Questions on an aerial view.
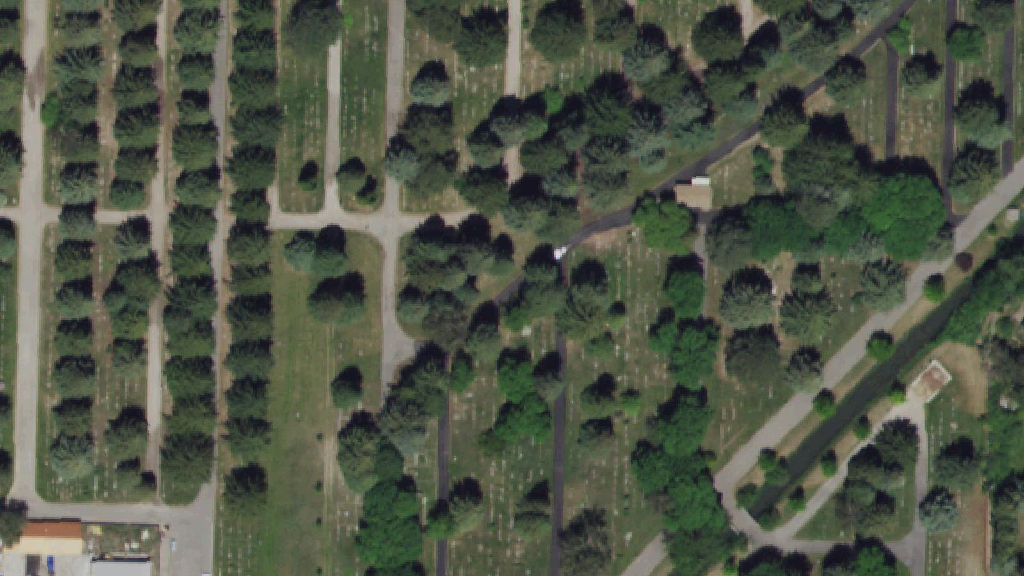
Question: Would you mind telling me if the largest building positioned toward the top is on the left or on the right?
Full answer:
The largest building positioned toward the top sits on the right side.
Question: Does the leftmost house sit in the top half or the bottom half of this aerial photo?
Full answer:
You can find the leftmost house in the bottom half.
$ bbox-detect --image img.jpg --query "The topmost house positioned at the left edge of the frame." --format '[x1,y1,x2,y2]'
[17,522,81,554]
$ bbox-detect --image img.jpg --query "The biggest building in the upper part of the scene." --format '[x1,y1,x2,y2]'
[676,177,712,210]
